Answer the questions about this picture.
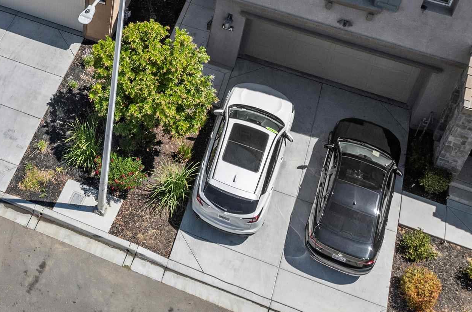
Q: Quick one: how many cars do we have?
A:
2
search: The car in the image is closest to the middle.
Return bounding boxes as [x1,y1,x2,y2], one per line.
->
[193,81,298,238]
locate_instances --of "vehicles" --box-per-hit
[305,109,411,278]
[193,81,298,238]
